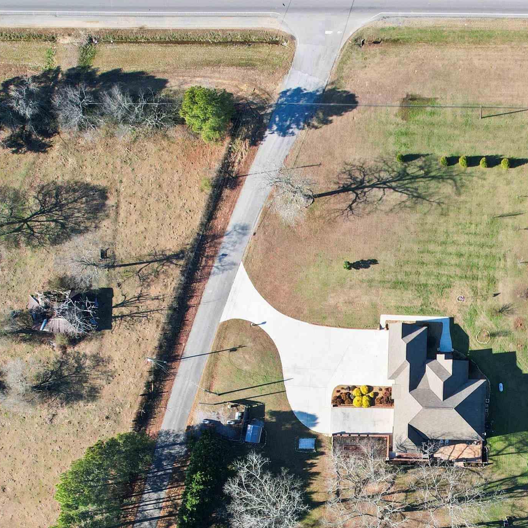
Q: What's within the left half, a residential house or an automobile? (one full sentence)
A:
You can see a residential house within the left half.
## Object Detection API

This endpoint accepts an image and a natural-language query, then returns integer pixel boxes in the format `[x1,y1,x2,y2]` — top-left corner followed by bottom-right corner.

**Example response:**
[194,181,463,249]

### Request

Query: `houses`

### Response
[388,321,486,451]
[26,287,104,333]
